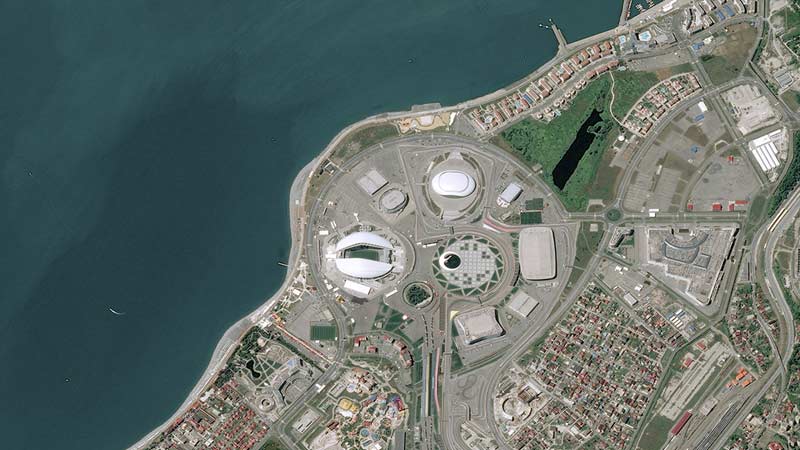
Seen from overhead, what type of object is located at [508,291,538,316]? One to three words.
building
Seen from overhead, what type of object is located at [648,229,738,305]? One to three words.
building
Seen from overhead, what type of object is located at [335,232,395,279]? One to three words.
stadium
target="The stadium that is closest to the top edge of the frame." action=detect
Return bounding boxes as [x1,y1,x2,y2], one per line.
[428,152,480,217]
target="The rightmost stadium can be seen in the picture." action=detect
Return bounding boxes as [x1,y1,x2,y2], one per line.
[520,227,555,280]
